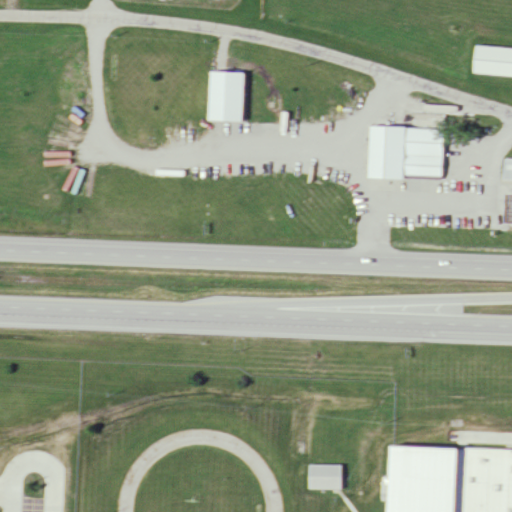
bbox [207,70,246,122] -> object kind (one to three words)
shed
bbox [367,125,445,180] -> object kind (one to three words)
building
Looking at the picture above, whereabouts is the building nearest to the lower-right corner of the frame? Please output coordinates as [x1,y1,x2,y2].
[462,447,512,512]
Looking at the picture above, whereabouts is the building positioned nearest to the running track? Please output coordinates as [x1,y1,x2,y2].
[308,464,343,492]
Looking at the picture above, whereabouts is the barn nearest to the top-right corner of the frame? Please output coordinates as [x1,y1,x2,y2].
[472,44,512,77]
